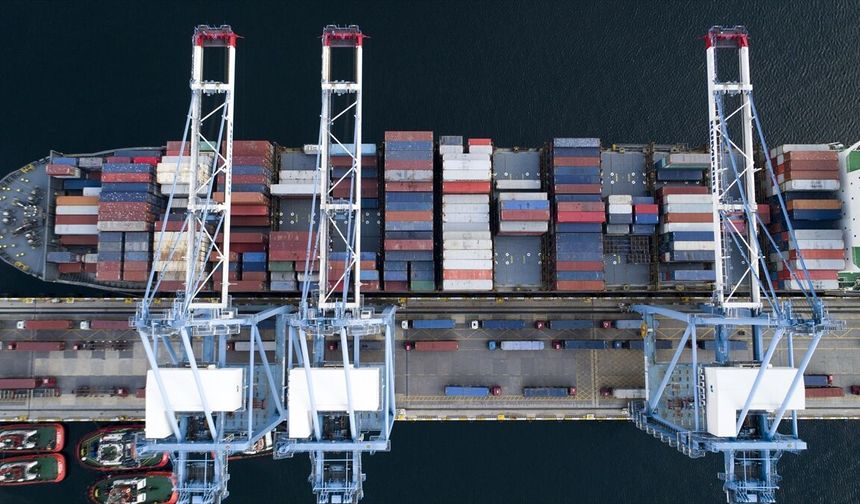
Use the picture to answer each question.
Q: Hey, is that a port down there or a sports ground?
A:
port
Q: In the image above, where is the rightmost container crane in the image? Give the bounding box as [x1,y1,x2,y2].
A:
[615,28,837,504]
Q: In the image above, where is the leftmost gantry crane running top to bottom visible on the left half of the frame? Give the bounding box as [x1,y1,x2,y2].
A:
[123,24,293,504]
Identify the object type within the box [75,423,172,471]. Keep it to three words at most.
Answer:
boat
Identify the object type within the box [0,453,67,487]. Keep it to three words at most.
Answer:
boat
